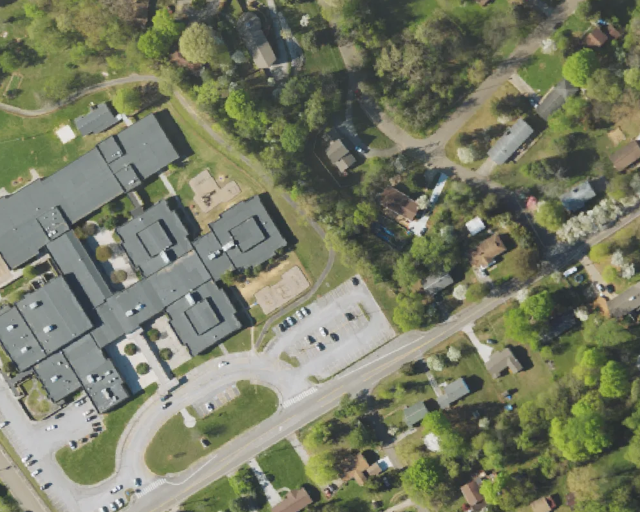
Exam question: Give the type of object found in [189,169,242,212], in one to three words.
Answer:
playground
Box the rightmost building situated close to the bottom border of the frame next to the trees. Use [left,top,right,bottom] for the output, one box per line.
[526,494,554,512]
